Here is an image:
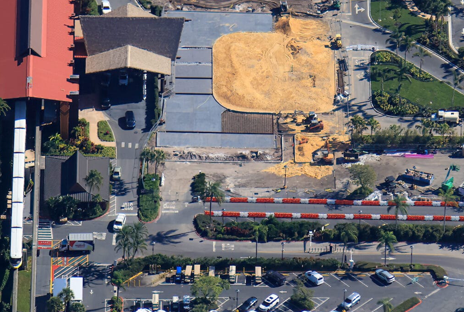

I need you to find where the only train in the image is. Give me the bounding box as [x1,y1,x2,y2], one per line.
[9,101,26,276]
